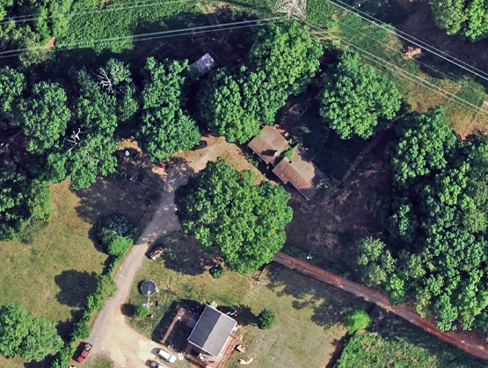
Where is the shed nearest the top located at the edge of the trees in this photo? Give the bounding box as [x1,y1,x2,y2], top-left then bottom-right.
[189,53,214,76]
